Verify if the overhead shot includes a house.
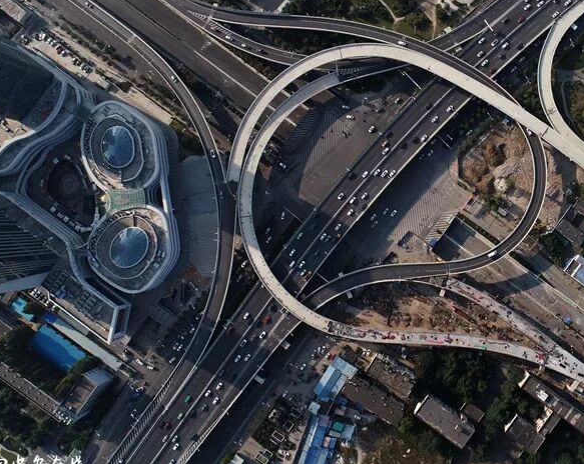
Yes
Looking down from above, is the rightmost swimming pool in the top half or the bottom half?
bottom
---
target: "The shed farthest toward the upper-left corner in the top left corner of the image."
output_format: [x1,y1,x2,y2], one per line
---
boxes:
[0,0,31,22]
